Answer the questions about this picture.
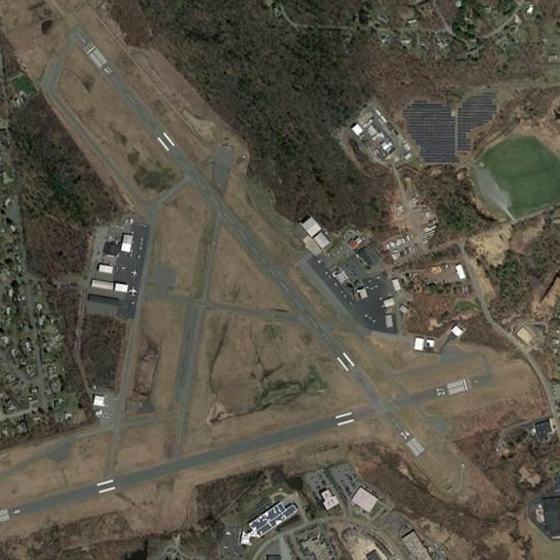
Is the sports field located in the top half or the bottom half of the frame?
top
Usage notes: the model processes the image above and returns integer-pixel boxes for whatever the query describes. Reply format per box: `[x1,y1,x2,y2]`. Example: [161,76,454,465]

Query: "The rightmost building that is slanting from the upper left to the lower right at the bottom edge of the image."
[402,530,433,560]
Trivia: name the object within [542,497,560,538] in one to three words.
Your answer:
building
